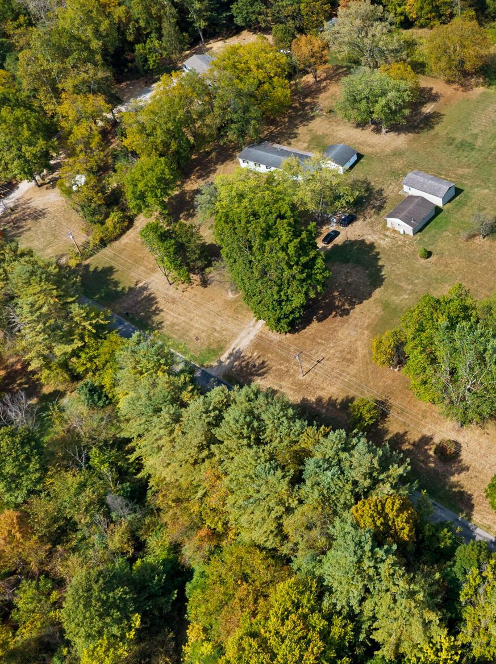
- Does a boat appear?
No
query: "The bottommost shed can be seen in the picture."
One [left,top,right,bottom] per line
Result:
[385,194,437,234]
